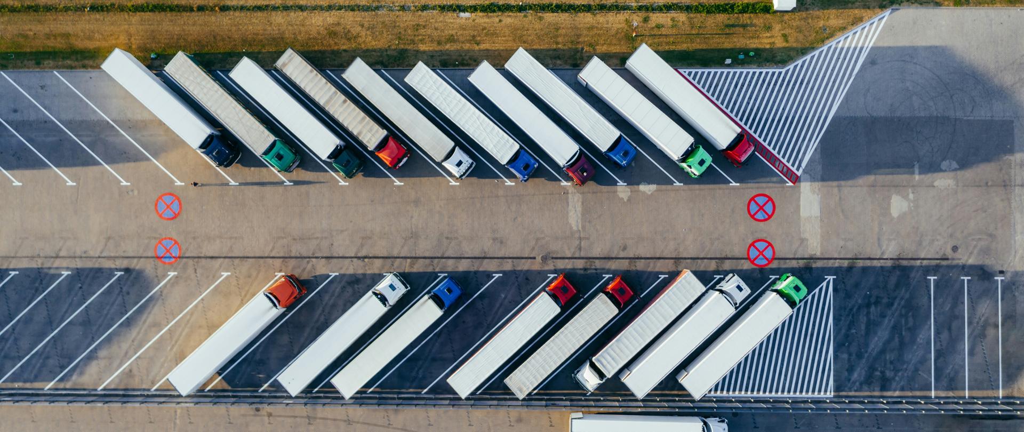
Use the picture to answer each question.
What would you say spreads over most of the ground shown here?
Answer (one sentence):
What you mostly see from above here is paved ground.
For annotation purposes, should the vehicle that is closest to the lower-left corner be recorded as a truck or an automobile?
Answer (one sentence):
The vehicle that is closest to the lower-left corner appears to be a truck.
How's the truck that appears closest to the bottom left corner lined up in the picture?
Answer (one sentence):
What the image shows is the truck that appears closest to the bottom left corner lying at an angle.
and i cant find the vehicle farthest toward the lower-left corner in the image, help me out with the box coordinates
[168,274,307,397]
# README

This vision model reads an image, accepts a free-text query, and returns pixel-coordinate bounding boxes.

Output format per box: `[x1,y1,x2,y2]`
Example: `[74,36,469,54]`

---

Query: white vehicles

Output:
[620,274,752,398]
[228,56,365,179]
[624,44,757,166]
[100,47,242,169]
[448,274,579,397]
[570,411,727,432]
[278,271,411,396]
[331,276,464,399]
[506,48,638,169]
[576,56,712,175]
[574,270,705,393]
[168,274,307,397]
[676,276,809,399]
[342,58,476,180]
[405,62,539,182]
[468,61,597,185]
